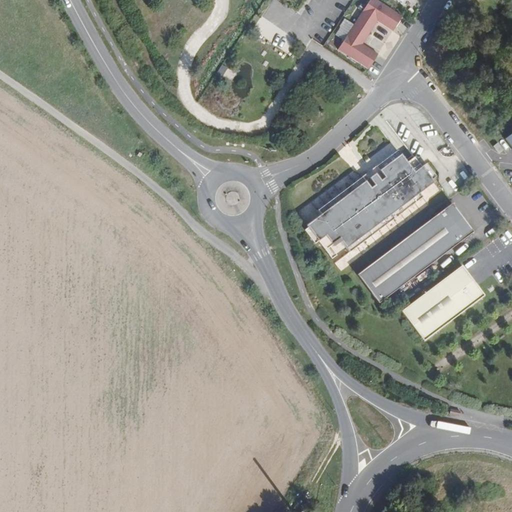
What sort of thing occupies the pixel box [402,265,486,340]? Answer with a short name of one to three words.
building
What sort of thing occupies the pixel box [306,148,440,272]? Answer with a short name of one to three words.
building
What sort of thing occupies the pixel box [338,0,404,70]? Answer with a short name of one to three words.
house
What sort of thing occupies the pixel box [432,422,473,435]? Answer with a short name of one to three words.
vehicle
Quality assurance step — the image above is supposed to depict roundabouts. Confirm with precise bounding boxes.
[198,163,268,234]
